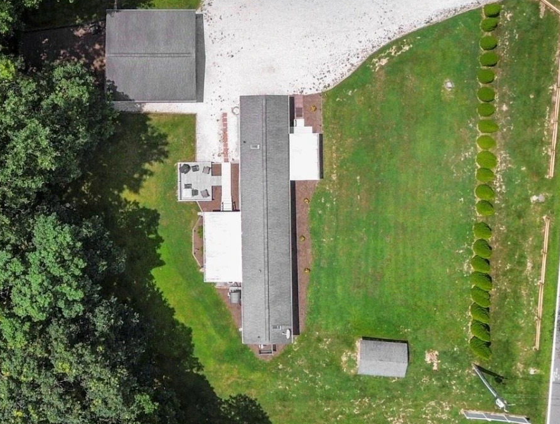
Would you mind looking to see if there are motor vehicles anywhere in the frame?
No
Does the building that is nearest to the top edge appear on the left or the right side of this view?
left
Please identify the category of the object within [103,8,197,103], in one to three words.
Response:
building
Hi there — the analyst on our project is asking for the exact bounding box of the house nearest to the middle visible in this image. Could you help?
[238,95,293,346]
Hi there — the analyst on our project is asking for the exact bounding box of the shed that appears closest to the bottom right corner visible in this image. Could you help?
[356,335,407,378]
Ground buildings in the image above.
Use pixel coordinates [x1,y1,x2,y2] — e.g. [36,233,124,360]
[356,335,407,378]
[103,8,197,103]
[238,95,293,346]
